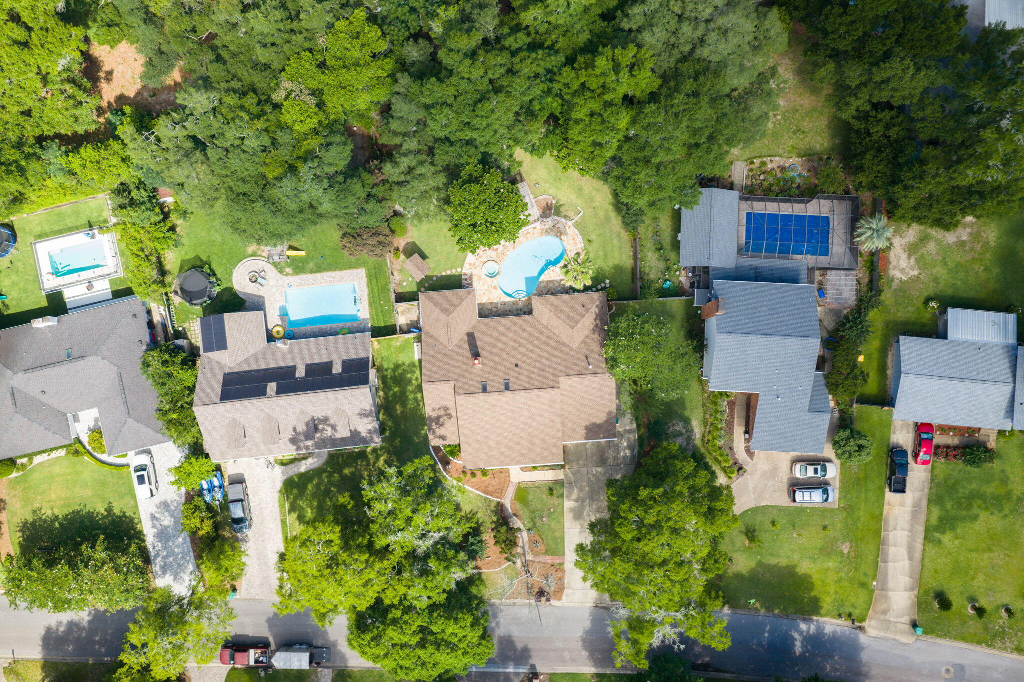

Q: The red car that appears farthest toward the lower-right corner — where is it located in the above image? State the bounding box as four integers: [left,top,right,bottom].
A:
[911,422,937,466]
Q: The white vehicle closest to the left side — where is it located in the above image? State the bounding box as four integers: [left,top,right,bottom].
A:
[132,452,160,501]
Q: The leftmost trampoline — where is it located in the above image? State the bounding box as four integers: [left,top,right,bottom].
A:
[0,223,22,256]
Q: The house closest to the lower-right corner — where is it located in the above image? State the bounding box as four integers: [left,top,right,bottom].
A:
[882,308,1024,432]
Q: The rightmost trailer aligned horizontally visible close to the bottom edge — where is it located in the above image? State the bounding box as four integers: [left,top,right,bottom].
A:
[272,642,331,671]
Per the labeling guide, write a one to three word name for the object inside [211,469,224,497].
boat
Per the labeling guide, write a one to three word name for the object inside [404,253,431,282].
shed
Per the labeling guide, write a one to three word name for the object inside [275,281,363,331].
swimming pool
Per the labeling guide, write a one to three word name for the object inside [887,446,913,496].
truck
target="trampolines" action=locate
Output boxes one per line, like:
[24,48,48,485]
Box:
[172,265,218,307]
[0,223,22,256]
